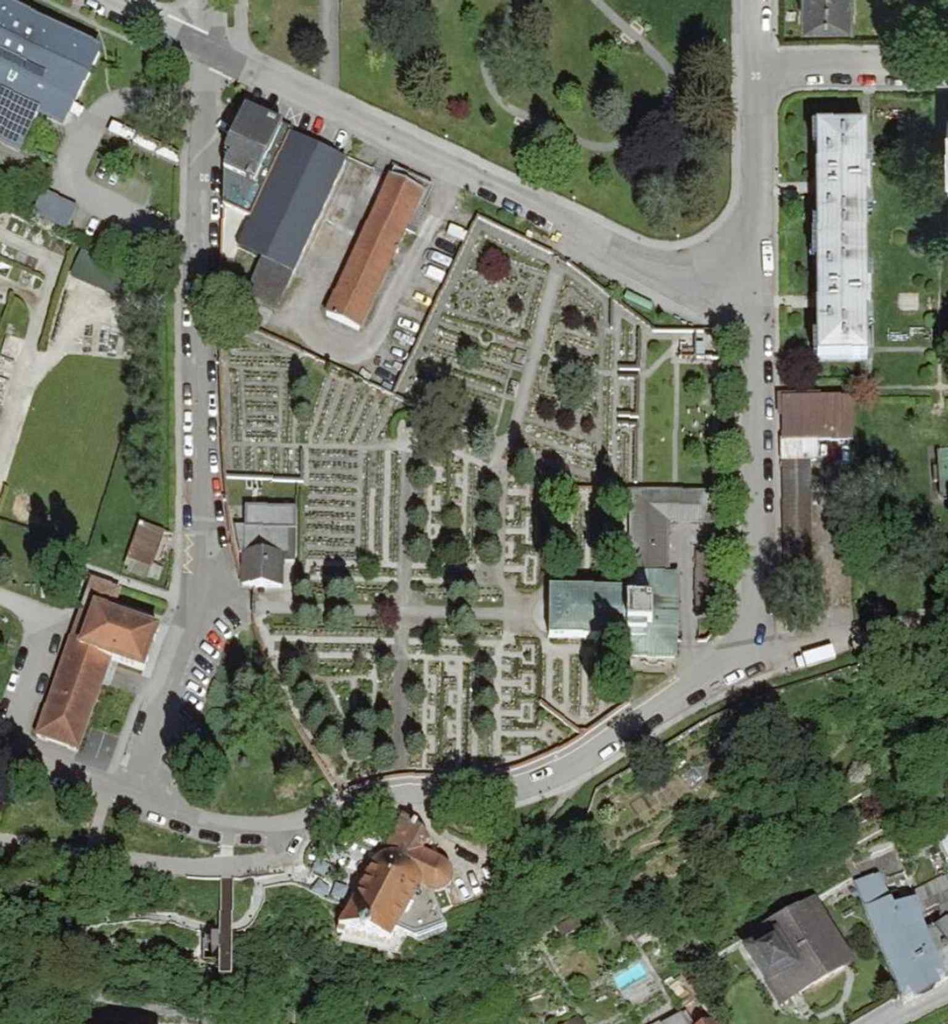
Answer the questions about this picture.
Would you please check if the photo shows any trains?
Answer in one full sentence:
No, no train is visible in the scene.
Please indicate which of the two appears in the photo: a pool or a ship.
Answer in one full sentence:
This aerial view contains a pool.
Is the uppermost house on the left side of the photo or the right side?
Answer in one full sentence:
The uppermost house is on the right side of the image.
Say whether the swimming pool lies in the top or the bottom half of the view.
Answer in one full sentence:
The bottom half of the photo is where the swimming pool is.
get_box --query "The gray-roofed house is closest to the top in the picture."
[803,0,853,47]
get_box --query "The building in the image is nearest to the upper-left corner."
[0,0,101,160]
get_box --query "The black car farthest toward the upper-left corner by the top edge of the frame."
[106,10,124,24]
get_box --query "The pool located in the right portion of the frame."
[612,959,650,992]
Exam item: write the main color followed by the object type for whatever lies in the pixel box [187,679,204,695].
white car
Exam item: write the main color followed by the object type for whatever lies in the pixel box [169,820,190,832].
black vehicle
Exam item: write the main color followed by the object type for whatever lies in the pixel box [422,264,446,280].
white vehicle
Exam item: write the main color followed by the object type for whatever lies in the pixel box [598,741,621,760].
white vehicle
